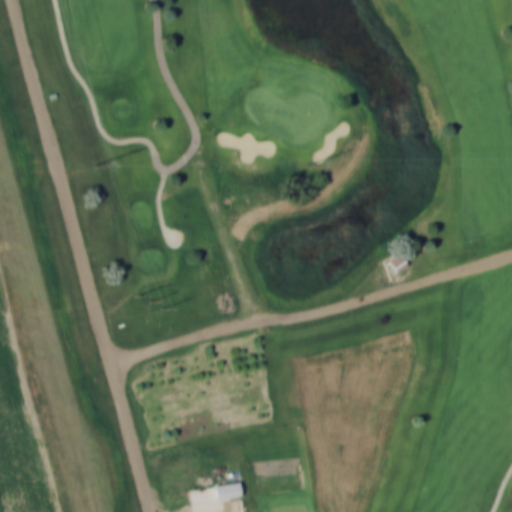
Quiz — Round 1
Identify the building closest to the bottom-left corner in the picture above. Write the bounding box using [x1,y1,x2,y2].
[216,482,244,501]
